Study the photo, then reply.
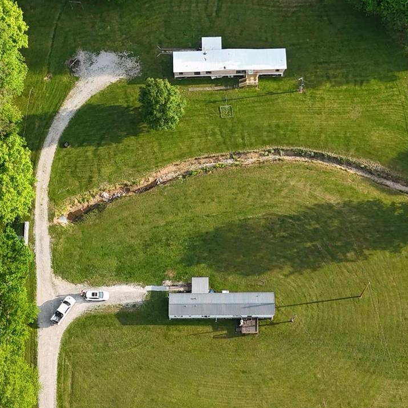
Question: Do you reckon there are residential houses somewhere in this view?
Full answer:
Yes, the picture does show a residential house.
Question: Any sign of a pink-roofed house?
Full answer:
No, this view has no pink-roofed house in it.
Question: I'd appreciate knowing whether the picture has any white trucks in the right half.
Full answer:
No, the scene shows no white truck in the right half.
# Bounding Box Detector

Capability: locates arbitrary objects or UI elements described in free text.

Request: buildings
[168,277,275,320]
[173,37,288,79]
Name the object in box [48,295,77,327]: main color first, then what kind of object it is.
white truck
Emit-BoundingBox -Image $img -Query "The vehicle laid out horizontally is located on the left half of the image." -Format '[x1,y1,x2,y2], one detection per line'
[83,289,109,301]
